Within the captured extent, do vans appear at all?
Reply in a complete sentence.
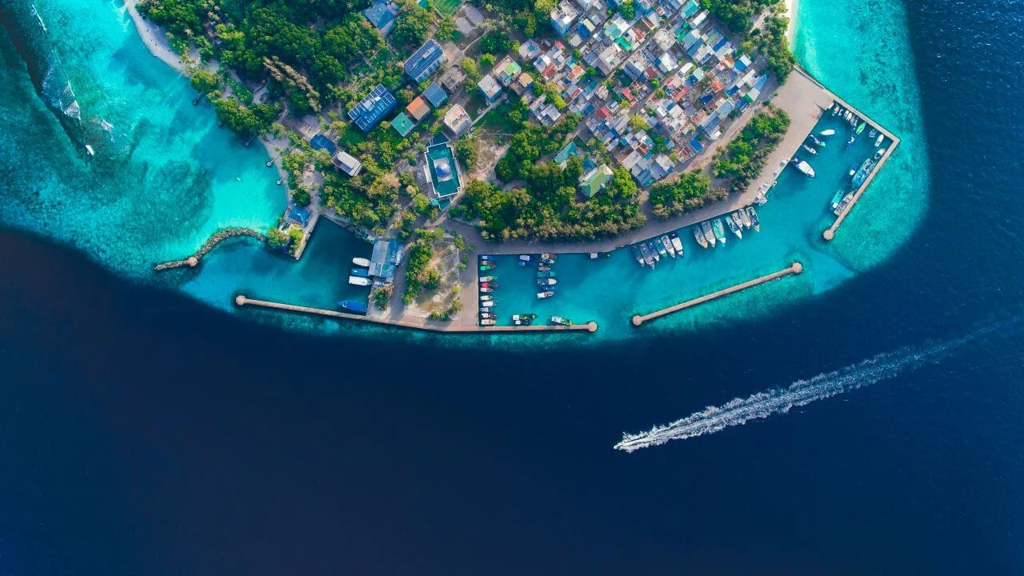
No, no van can be seen from above.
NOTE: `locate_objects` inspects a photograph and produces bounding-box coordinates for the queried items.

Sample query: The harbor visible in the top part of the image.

[366,69,831,331]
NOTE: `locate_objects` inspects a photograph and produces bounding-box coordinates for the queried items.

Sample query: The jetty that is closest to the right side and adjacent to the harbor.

[822,101,900,240]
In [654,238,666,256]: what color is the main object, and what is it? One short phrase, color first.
blue boat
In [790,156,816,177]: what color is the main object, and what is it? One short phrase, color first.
white boat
